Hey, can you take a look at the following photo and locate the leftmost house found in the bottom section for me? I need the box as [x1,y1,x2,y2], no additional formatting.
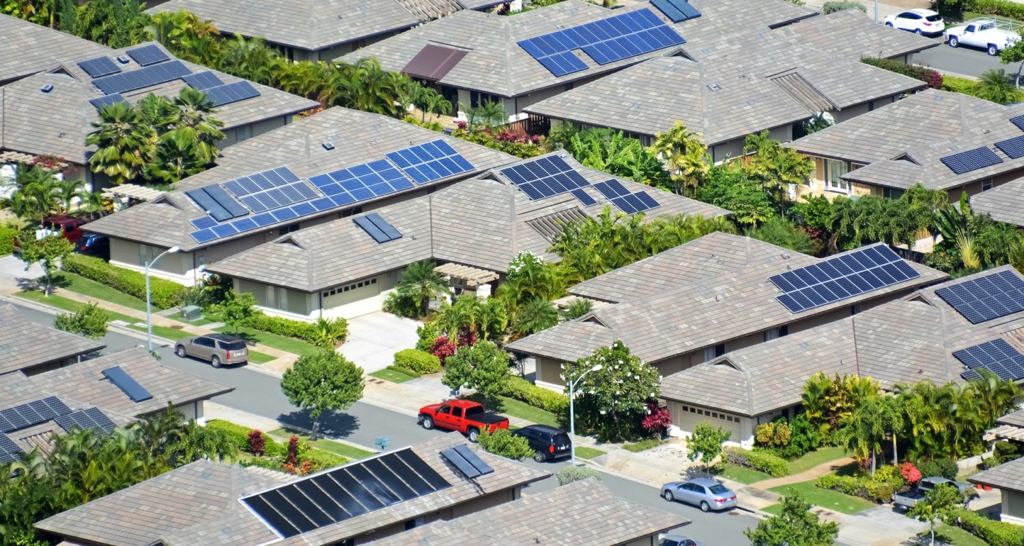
[0,307,110,378]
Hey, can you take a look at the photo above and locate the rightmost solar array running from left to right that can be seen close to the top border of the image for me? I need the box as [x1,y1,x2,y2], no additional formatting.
[517,8,682,78]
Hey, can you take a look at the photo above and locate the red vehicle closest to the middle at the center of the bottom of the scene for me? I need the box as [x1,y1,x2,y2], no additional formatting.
[414,398,508,444]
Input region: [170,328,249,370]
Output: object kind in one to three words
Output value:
car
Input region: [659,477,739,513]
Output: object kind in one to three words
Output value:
car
